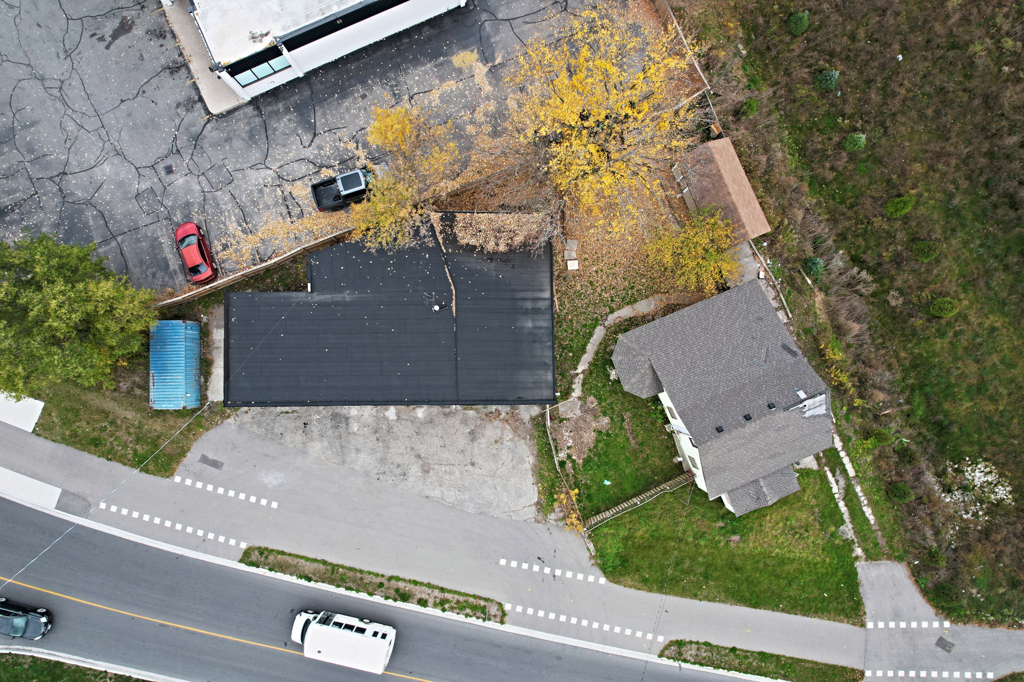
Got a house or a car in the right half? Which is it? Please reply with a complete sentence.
Visible in the right half is a house.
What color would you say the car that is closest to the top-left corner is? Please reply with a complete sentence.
From above, the car that is closest to the top-left corner appears red.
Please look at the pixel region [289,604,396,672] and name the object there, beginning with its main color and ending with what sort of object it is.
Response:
white vehicle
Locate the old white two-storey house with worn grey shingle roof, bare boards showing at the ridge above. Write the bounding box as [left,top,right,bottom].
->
[611,278,836,517]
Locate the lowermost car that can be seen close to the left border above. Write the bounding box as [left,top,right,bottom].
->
[0,595,50,637]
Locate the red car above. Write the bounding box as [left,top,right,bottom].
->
[176,222,218,288]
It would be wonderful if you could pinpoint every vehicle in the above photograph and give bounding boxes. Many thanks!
[289,604,396,672]
[0,595,50,637]
[309,157,394,210]
[176,222,218,288]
